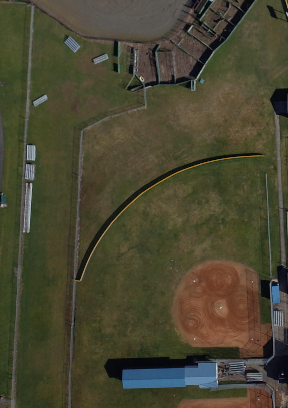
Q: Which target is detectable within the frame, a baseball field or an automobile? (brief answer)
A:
baseball field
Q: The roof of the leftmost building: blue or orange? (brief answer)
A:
blue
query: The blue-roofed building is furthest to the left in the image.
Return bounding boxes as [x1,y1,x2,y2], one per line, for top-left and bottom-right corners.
[122,365,186,389]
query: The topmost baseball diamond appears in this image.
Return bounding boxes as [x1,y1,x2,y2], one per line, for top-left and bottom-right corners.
[70,155,274,382]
